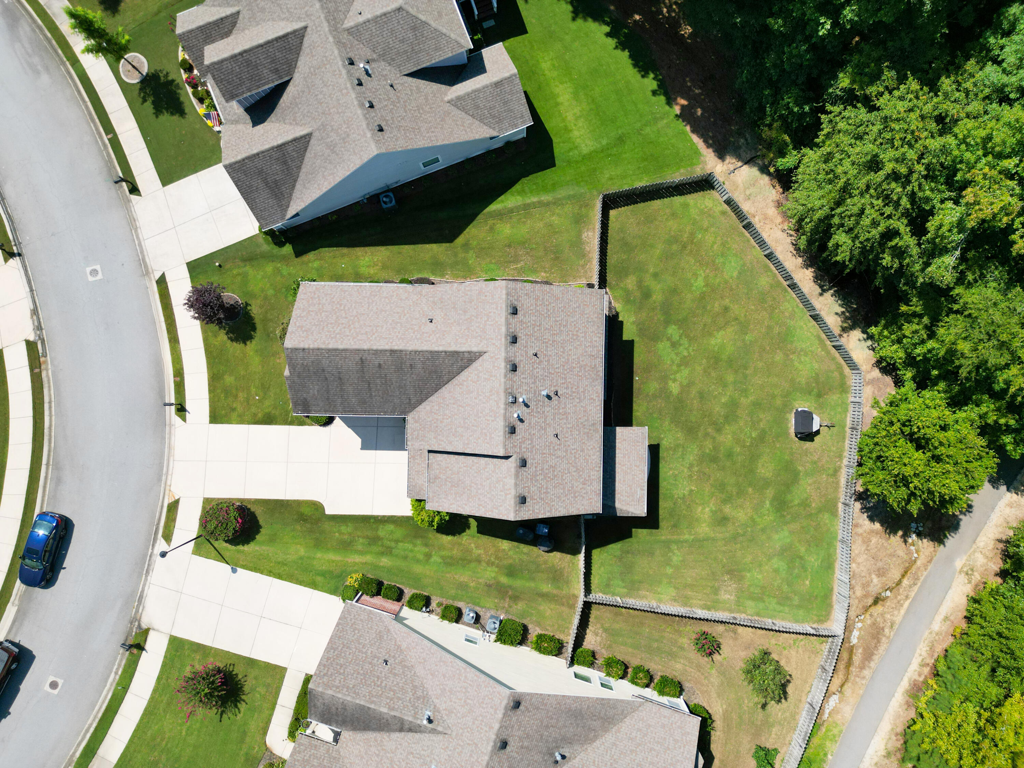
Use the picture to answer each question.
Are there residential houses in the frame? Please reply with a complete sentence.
Yes, a residential house appears in the view.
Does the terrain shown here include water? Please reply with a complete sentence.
No, water can't be seen anywhere here.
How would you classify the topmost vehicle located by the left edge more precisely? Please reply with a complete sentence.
The topmost vehicle located by the left edge in the image is a car.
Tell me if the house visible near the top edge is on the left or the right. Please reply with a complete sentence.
The house visible near the top edge sits on the left side.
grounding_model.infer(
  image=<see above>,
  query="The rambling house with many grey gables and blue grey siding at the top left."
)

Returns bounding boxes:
[176,0,533,235]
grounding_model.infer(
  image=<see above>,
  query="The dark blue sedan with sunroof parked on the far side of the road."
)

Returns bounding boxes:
[18,510,69,586]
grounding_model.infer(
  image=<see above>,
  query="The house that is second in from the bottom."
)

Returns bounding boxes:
[283,280,648,520]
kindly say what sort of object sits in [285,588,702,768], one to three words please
house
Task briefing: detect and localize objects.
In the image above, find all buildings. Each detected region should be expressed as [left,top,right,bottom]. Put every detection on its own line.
[285,588,702,768]
[176,0,533,235]
[283,280,648,520]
